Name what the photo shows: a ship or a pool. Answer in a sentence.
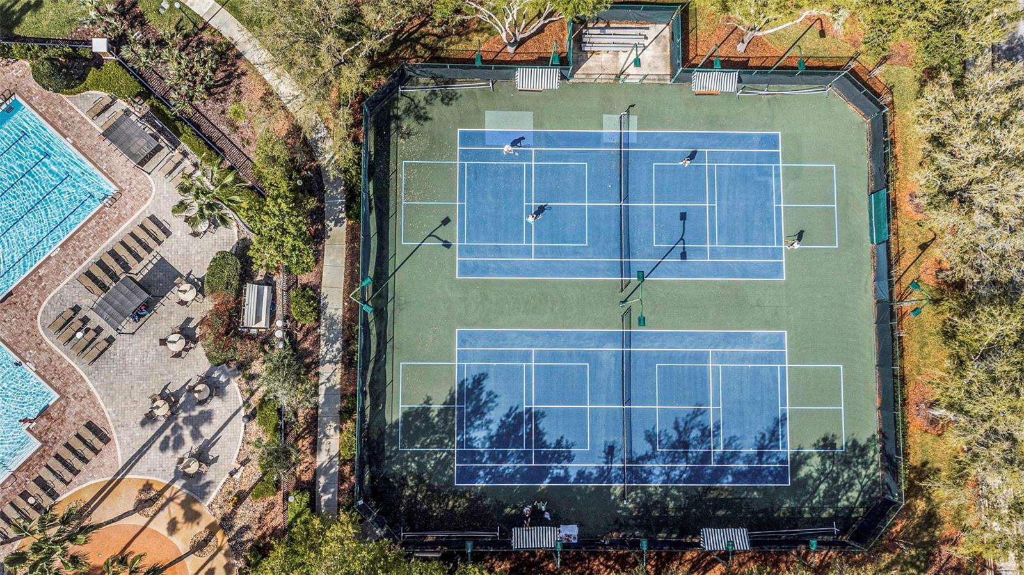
Visible in the photo is a pool.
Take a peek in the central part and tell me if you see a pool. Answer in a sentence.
No, no pool appears in the central part.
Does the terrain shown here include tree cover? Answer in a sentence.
Yes, the picture does contain tree cover.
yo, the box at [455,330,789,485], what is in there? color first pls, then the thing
blue tennis court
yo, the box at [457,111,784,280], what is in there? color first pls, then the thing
blue tennis court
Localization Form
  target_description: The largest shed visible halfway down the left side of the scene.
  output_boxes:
[241,284,277,332]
